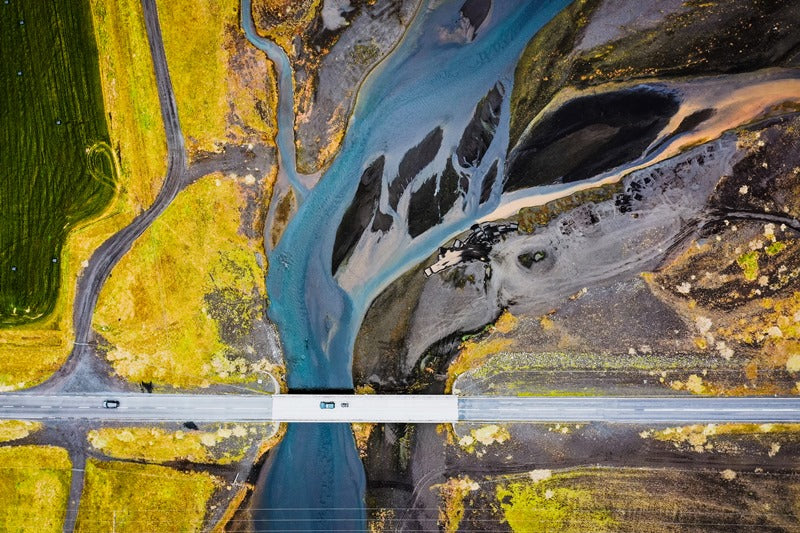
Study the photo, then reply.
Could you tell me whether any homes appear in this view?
No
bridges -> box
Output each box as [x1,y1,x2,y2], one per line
[272,394,459,427]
